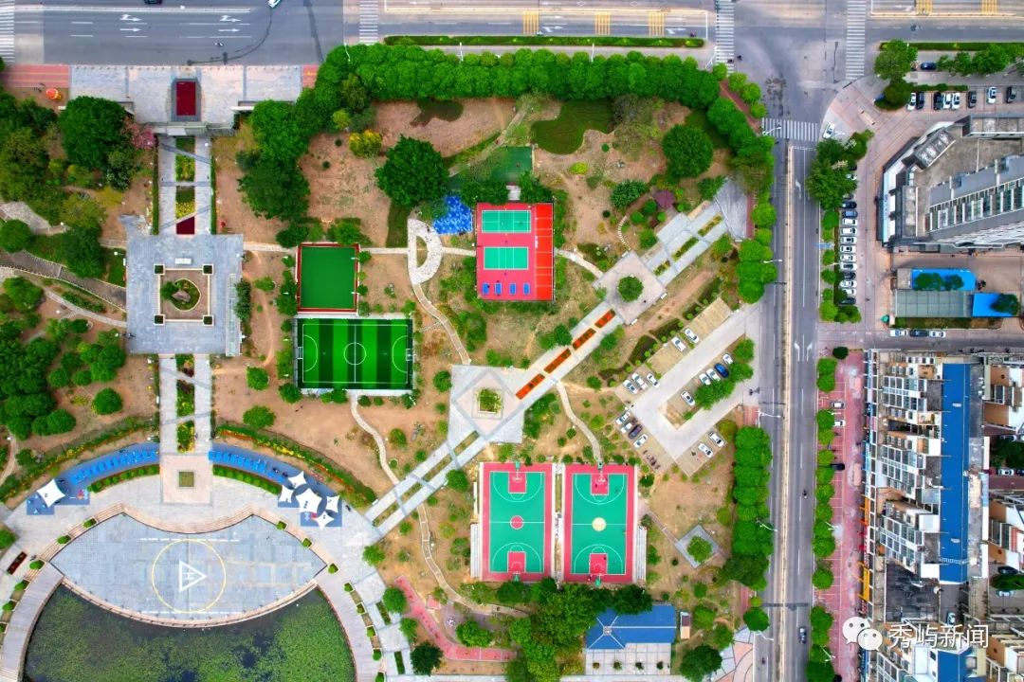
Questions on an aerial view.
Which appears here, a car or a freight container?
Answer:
car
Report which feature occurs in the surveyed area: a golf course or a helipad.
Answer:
helipad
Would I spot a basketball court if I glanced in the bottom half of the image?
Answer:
Yes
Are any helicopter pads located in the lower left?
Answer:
Yes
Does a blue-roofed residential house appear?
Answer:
Yes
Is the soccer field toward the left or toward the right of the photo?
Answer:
left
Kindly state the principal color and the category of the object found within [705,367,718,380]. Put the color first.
white vehicle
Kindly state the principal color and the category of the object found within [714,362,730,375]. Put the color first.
blue vehicle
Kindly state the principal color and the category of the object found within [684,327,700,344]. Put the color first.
white car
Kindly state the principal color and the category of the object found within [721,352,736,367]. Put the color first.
white car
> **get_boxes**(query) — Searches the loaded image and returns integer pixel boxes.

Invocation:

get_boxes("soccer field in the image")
[293,313,414,395]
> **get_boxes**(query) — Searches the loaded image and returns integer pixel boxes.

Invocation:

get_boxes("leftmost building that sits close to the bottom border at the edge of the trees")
[586,602,676,650]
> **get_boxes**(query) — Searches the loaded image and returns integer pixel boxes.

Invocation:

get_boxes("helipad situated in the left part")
[151,539,226,613]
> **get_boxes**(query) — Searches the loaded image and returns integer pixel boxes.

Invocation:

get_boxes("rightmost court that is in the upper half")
[476,202,553,301]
